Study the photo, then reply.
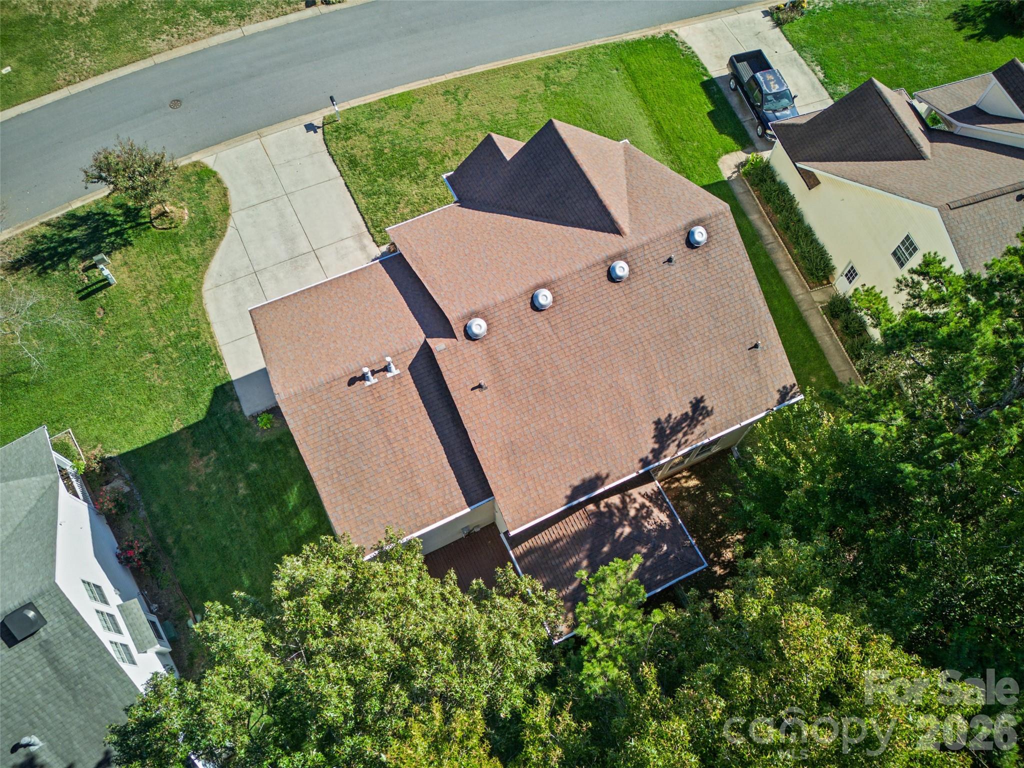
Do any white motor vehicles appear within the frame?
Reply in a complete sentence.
No, there appears to be no white motor vehicle in this shot.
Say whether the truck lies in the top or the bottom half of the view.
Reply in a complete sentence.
The truck sits in the top half of the picture.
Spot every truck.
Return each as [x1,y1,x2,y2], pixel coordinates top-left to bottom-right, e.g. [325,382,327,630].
[724,65,789,143]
